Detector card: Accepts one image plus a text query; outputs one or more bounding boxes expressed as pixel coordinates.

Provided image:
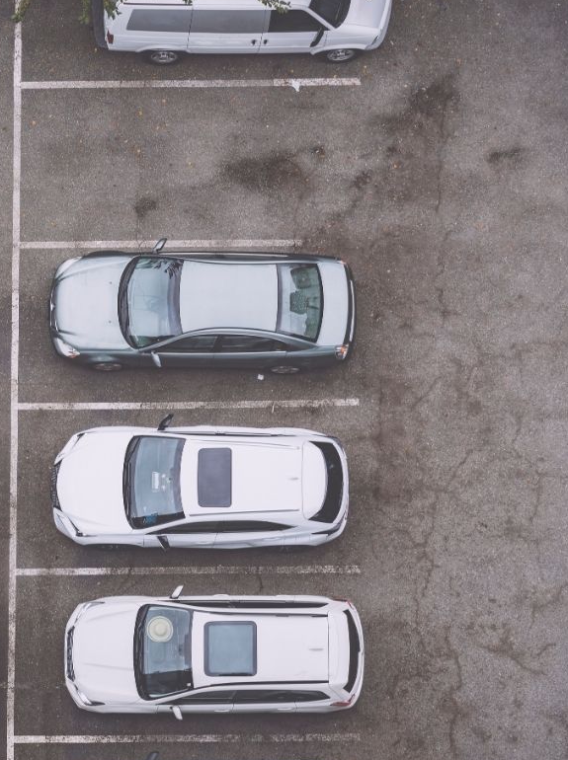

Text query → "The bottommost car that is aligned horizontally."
[64,582,366,721]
